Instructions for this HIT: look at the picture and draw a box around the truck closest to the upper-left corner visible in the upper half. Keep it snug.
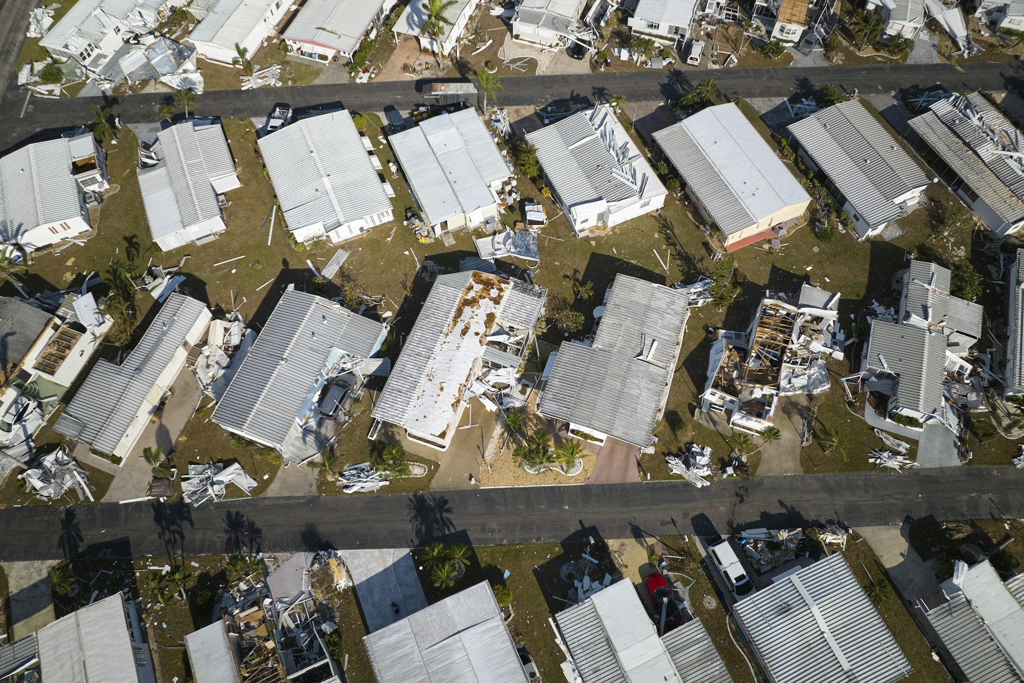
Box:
[260,95,291,135]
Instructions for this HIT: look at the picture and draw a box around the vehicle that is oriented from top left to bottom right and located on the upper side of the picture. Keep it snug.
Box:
[382,99,410,133]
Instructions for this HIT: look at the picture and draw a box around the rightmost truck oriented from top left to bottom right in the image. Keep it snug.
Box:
[709,536,759,601]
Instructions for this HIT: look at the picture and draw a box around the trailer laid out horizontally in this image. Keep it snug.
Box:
[415,82,479,110]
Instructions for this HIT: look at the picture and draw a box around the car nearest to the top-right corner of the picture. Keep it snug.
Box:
[804,22,831,48]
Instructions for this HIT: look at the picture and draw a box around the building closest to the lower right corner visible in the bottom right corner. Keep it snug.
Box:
[926,560,1024,683]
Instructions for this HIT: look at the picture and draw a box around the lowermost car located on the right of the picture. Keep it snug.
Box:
[646,569,690,629]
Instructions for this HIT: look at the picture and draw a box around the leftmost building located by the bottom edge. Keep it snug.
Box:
[0,591,152,683]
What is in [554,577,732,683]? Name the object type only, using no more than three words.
house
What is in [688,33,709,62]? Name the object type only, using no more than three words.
car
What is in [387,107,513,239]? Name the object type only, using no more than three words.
house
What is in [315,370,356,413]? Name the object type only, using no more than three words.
car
